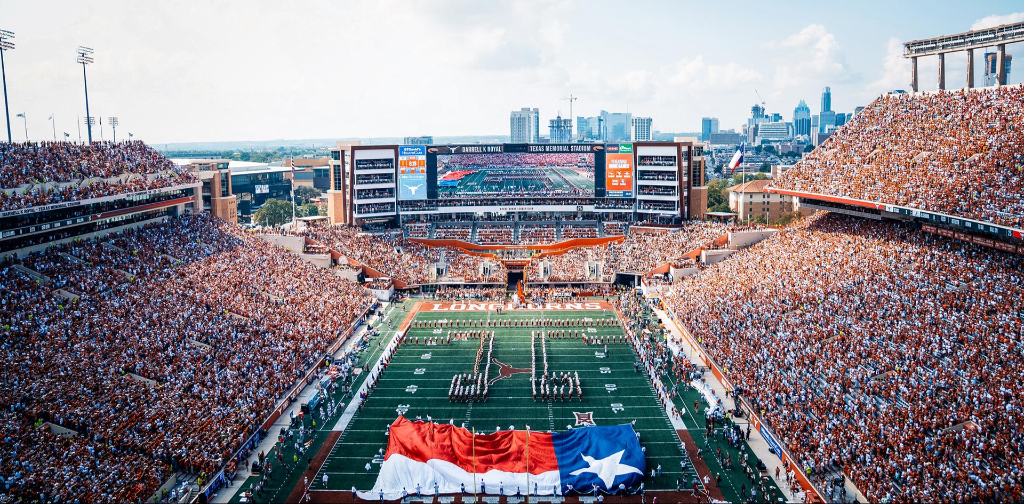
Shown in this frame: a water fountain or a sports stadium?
sports stadium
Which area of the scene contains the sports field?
bottom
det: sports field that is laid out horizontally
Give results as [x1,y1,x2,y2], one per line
[311,310,704,489]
